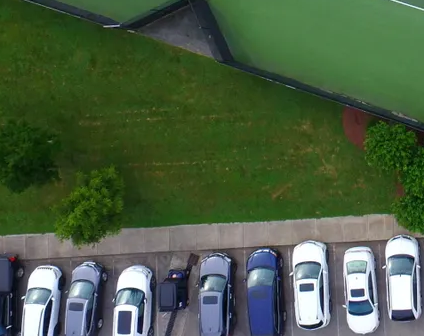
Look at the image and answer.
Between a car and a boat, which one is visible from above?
car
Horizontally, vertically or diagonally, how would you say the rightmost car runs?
vertically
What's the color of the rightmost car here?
white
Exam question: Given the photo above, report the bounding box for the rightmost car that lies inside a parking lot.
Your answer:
[382,233,423,325]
